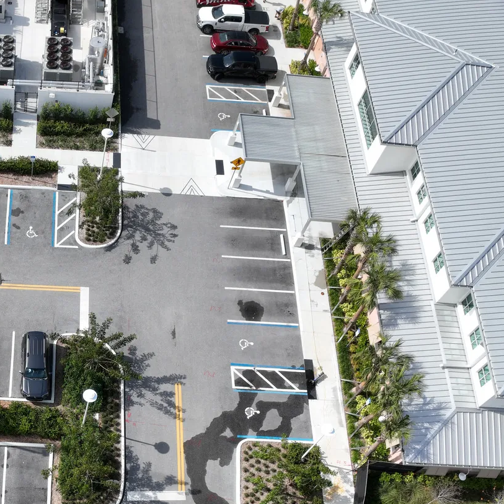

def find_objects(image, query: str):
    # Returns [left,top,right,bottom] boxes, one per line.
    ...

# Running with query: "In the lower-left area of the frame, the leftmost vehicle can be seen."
[16,331,54,403]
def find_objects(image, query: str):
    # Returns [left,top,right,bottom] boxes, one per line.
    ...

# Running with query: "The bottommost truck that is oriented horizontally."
[202,53,281,88]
